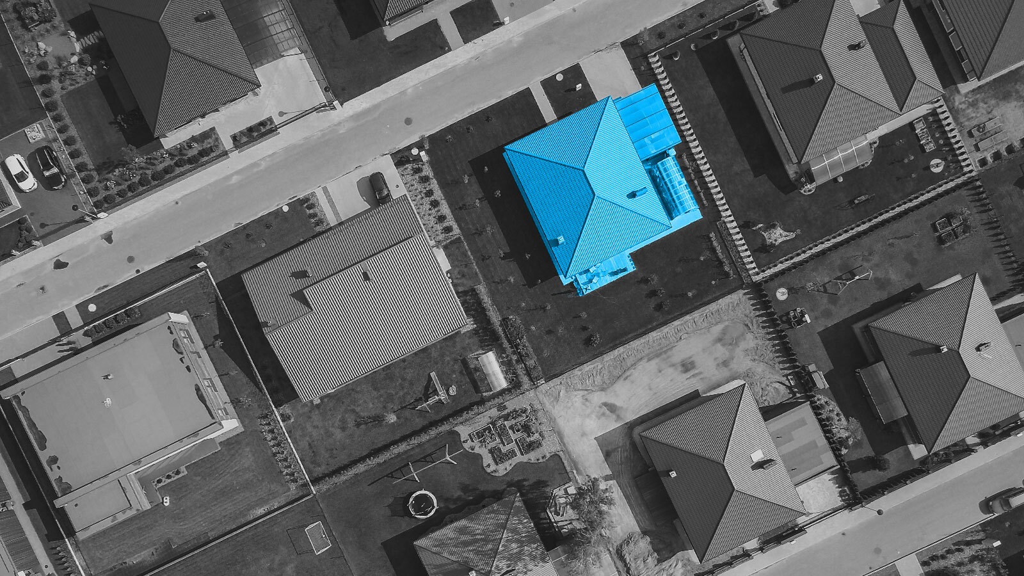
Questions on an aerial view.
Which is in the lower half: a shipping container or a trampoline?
trampoline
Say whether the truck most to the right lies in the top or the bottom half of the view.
bottom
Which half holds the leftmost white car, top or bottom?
top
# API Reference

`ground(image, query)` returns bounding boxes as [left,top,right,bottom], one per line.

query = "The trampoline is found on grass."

[406,491,437,523]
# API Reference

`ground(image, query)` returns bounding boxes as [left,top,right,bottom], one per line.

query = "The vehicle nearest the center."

[367,166,394,206]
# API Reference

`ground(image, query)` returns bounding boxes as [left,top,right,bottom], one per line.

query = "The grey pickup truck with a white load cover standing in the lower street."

[985,481,1024,514]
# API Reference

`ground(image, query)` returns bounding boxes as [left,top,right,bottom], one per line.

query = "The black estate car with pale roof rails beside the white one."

[28,144,61,188]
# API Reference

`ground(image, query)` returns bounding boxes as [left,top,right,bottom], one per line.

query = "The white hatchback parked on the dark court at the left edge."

[3,151,32,191]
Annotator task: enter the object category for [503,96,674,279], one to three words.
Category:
house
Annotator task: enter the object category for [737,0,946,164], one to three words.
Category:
house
